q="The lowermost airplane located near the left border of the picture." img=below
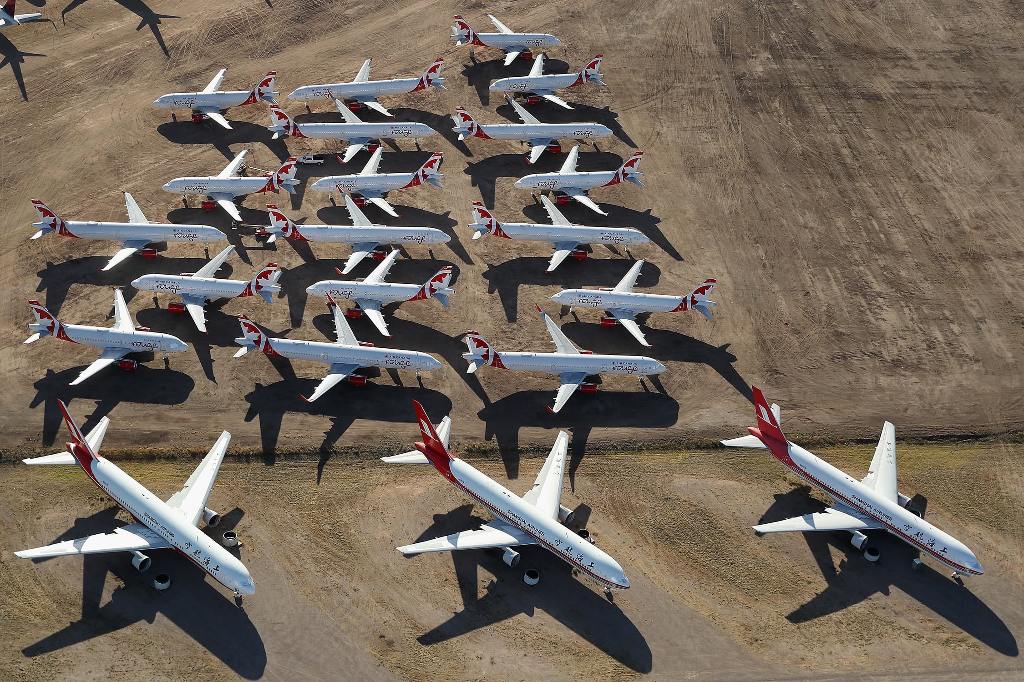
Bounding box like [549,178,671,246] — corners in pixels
[15,399,257,599]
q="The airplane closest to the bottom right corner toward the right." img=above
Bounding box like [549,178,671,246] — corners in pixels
[722,386,981,579]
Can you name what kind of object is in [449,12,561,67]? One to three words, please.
airplane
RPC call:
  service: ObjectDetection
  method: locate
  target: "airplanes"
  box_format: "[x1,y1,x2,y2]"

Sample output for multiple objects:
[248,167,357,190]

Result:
[722,386,981,579]
[263,185,451,274]
[31,189,226,273]
[490,51,605,110]
[467,192,649,273]
[449,12,561,67]
[451,91,613,163]
[552,258,716,348]
[131,243,283,334]
[311,144,445,218]
[515,143,644,216]
[305,247,456,338]
[153,66,281,130]
[267,90,435,163]
[383,399,632,595]
[461,303,666,412]
[289,57,447,118]
[162,147,301,223]
[25,287,188,387]
[233,293,442,402]
[15,399,257,599]
[0,0,45,26]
